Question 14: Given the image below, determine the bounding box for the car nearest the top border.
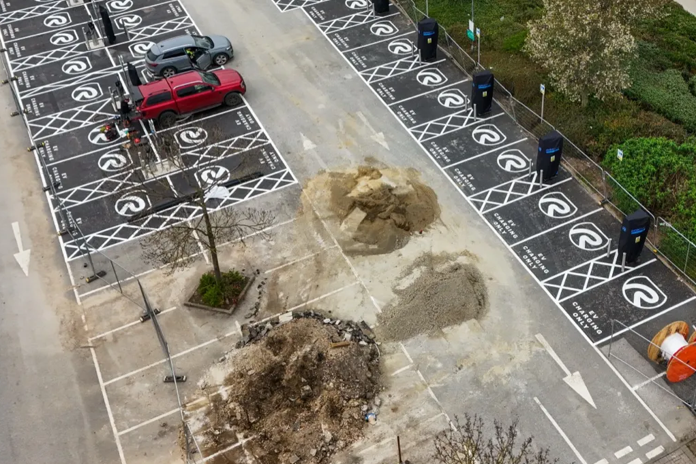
[140,36,231,83]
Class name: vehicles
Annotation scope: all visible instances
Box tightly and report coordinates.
[117,68,247,127]
[140,36,231,83]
